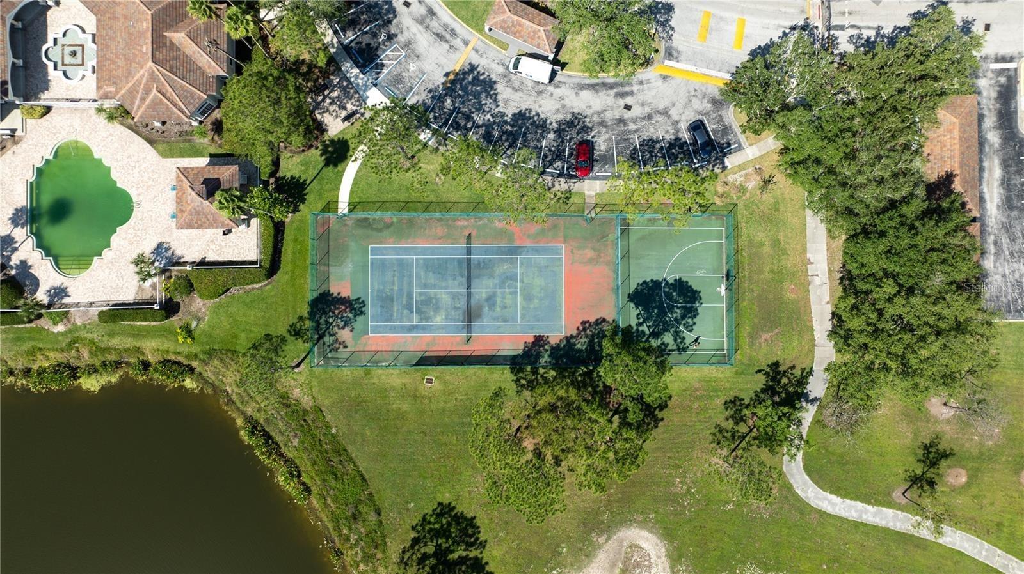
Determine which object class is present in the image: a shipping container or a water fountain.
water fountain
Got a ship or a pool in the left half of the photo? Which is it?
pool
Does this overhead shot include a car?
Yes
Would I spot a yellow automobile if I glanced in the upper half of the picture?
No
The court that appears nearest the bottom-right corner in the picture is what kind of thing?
basketball court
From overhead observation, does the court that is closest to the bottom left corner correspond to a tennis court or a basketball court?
tennis court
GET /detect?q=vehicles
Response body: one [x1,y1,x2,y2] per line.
[688,116,714,158]
[575,139,594,177]
[508,58,553,87]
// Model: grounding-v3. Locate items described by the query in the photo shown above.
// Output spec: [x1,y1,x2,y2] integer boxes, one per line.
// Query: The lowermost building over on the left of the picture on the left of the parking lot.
[175,164,244,230]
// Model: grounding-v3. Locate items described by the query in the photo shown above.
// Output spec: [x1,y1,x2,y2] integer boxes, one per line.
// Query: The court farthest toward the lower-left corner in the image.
[318,215,618,365]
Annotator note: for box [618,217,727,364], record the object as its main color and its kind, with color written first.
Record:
green basketball court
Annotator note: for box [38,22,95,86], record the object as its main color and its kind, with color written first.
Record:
white fountain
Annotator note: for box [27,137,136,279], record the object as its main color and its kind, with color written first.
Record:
green swimming pool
